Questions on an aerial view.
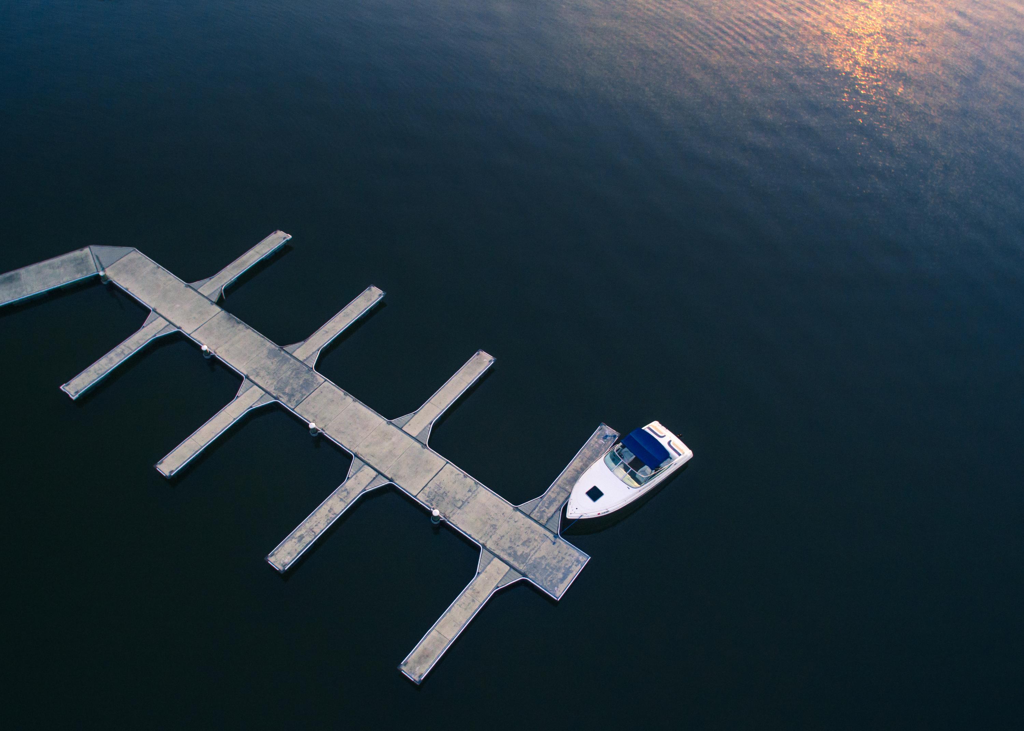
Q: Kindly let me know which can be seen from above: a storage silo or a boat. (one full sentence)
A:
The image shows a boat.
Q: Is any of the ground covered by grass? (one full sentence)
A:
No, there is no grass in the image.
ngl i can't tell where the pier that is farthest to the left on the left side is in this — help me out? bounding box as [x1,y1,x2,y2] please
[60,309,182,402]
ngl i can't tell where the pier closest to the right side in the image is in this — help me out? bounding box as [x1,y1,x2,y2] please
[512,423,620,539]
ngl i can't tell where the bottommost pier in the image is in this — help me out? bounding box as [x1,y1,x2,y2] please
[398,544,529,687]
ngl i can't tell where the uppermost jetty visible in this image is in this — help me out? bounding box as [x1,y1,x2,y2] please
[186,231,292,306]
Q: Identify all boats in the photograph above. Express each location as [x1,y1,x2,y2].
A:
[565,421,692,520]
